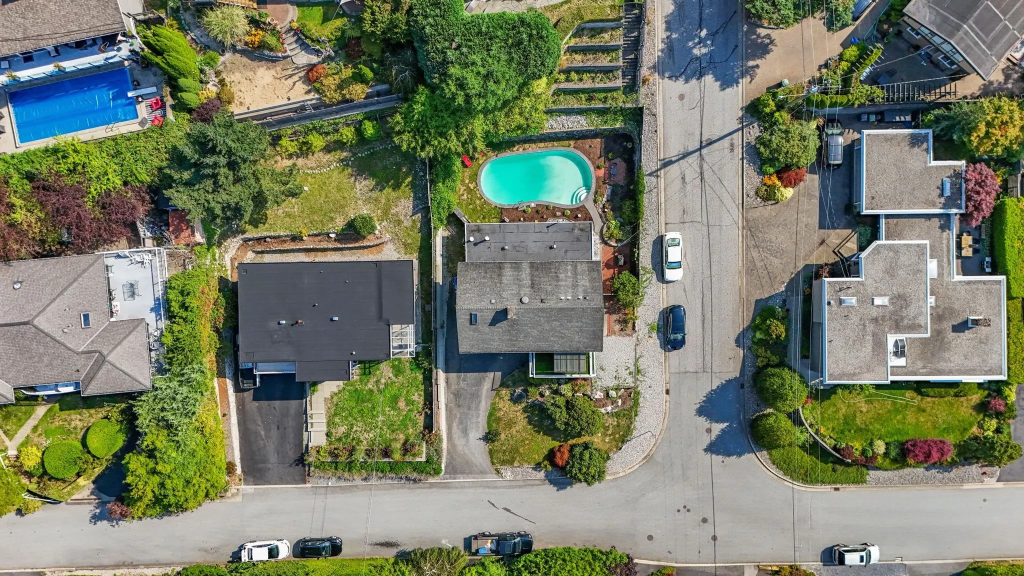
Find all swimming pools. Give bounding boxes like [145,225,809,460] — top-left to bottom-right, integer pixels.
[477,146,596,209]
[4,65,141,149]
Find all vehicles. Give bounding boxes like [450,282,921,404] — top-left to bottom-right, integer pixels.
[831,540,880,566]
[818,119,846,171]
[474,530,531,556]
[236,351,262,399]
[297,534,344,559]
[243,537,291,561]
[838,0,880,33]
[662,231,685,283]
[664,305,687,351]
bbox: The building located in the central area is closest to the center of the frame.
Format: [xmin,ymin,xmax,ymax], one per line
[455,223,604,354]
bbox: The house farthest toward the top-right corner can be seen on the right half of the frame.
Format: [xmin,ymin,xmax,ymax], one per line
[889,0,1024,86]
